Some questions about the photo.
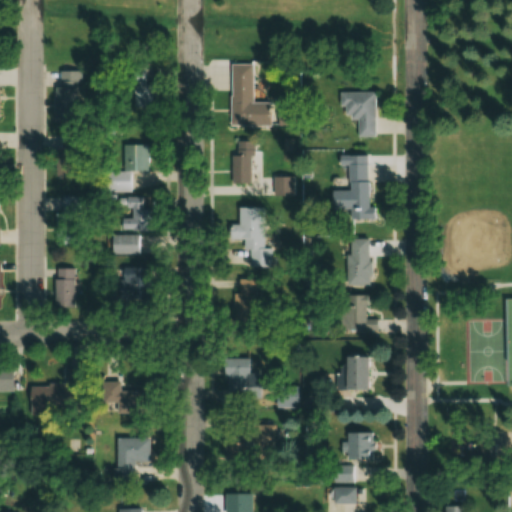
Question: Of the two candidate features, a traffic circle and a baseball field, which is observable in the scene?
baseball field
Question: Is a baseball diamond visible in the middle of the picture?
No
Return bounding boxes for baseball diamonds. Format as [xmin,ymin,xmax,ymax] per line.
[444,210,512,277]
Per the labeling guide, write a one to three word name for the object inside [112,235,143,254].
building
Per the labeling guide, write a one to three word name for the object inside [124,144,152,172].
house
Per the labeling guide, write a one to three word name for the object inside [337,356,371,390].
house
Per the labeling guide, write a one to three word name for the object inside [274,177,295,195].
building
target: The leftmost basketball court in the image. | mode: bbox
[468,320,504,384]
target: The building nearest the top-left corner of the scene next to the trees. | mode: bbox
[56,71,86,110]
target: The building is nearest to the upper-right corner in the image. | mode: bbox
[340,92,378,138]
